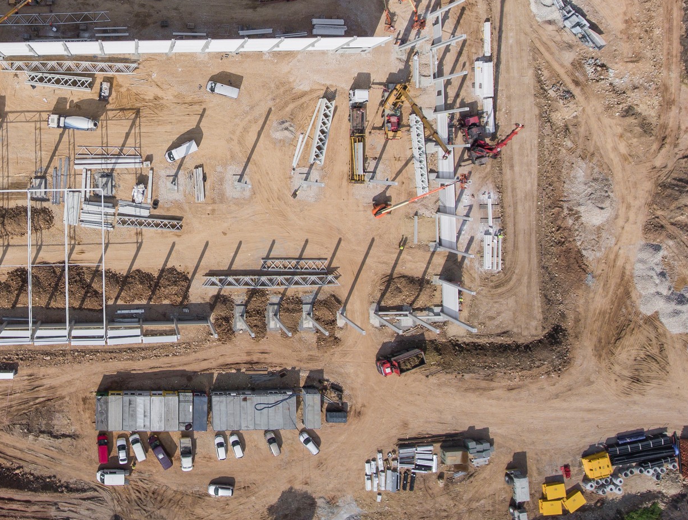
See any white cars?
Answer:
Yes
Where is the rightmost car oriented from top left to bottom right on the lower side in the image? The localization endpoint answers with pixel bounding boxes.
[299,431,322,459]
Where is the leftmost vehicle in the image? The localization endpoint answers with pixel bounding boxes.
[47,112,98,131]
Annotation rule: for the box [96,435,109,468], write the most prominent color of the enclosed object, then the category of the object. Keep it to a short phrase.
red vehicle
